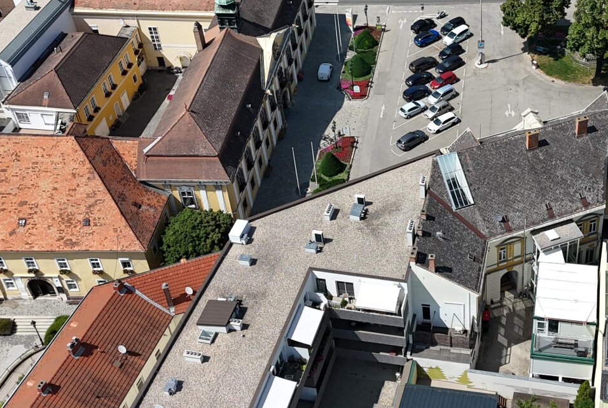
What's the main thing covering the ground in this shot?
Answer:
buildings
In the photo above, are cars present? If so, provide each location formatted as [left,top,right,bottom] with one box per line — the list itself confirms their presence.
[440,42,465,58]
[408,54,439,73]
[443,25,471,43]
[404,68,436,87]
[423,98,455,120]
[432,70,458,88]
[427,111,460,134]
[398,99,428,118]
[410,16,438,33]
[396,128,430,152]
[435,54,465,74]
[427,82,458,104]
[401,82,434,103]
[440,14,466,32]
[415,29,440,45]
